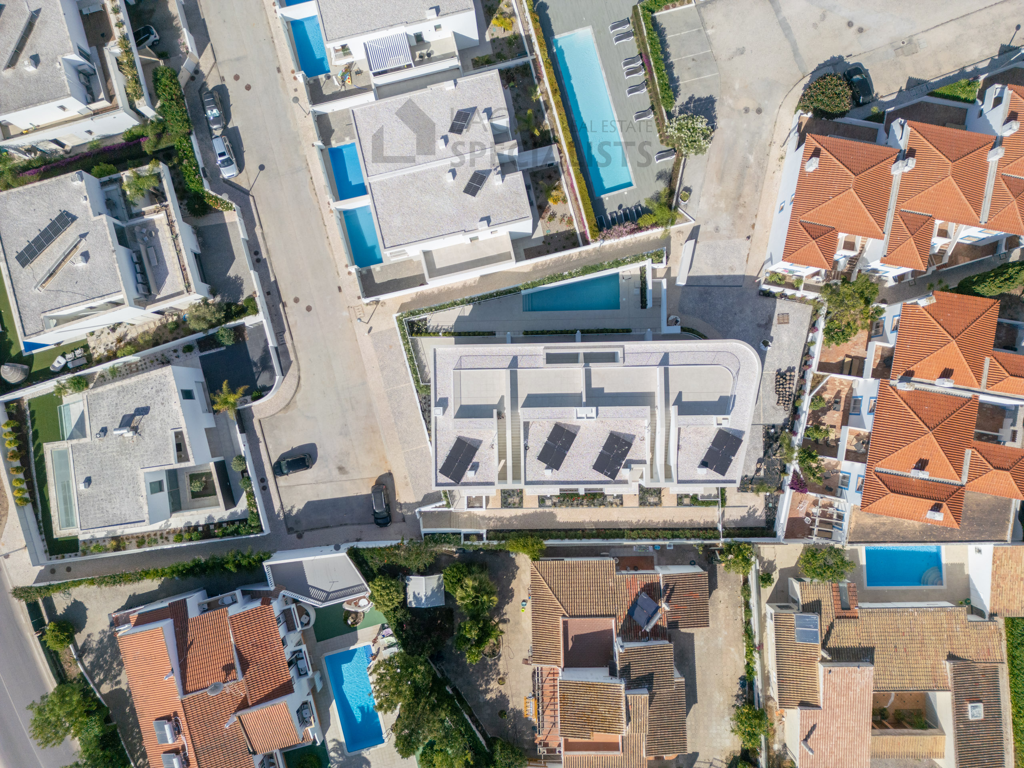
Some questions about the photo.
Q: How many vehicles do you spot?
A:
6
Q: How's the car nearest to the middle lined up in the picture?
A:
up and down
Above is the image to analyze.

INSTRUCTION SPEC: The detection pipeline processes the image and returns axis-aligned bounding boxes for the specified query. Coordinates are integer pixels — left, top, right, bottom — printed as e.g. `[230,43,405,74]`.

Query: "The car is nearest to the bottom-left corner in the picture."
[272,453,314,478]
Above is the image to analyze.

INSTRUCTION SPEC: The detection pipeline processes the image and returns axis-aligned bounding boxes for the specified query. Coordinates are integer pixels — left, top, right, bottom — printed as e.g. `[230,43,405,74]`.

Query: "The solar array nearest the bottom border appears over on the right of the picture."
[795,614,819,643]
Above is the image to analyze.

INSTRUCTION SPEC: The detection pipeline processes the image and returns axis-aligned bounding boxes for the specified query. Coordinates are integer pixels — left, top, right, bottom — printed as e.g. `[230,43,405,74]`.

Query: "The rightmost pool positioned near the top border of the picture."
[548,22,638,200]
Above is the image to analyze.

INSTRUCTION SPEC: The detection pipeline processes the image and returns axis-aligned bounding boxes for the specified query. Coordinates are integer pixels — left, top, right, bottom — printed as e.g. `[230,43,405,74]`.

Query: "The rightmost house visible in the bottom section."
[969,539,1024,617]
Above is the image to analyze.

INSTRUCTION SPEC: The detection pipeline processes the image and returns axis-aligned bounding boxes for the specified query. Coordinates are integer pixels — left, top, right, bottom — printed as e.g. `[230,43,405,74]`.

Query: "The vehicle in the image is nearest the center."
[370,484,393,528]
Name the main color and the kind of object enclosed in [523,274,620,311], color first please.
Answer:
blue swimming pool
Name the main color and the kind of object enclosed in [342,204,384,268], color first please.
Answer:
blue swimming pool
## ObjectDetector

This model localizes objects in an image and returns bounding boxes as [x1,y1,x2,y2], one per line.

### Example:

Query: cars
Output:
[200,88,228,132]
[210,132,242,180]
[124,27,163,57]
[846,64,876,105]
[272,453,314,478]
[370,484,393,528]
